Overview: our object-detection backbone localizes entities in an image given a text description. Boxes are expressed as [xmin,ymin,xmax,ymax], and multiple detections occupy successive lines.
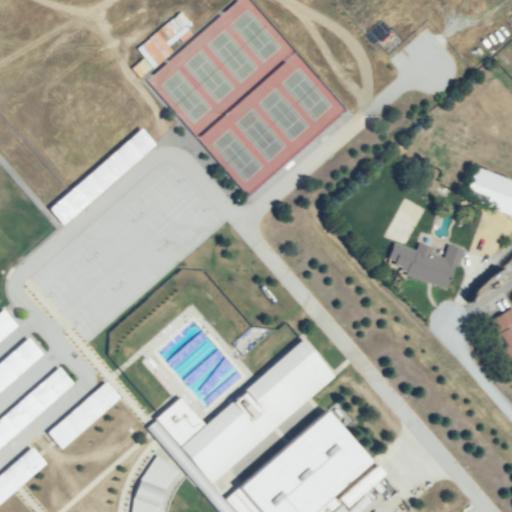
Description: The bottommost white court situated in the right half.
[384,198,425,244]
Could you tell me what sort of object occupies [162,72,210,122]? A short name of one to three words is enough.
tennis court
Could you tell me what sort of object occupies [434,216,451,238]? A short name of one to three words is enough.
swimming pool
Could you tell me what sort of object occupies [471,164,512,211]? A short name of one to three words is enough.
barn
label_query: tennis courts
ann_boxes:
[162,72,210,122]
[214,130,262,182]
[186,51,234,102]
[282,69,330,120]
[209,30,258,82]
[232,10,280,62]
[260,89,308,140]
[237,109,285,160]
